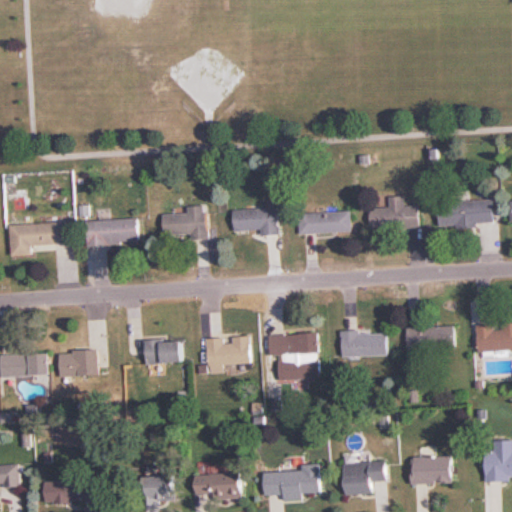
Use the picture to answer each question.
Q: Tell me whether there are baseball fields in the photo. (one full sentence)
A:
Yes, there's a baseball field here.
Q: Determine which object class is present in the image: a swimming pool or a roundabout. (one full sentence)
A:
This aerial view contains a swimming pool.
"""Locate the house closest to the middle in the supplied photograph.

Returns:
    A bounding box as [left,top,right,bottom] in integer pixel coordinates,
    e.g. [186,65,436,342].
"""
[232,208,280,236]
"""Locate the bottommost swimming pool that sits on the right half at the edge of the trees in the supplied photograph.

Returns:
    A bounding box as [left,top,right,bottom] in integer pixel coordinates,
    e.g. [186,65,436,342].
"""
[346,432,364,458]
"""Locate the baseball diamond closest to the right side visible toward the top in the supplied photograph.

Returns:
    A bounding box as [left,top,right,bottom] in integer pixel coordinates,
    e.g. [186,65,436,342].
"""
[170,47,244,144]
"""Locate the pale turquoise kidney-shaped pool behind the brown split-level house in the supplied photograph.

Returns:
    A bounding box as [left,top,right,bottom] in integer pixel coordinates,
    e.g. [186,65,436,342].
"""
[18,380,46,402]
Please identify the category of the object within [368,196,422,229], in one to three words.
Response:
house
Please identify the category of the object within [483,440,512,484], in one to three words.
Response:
house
